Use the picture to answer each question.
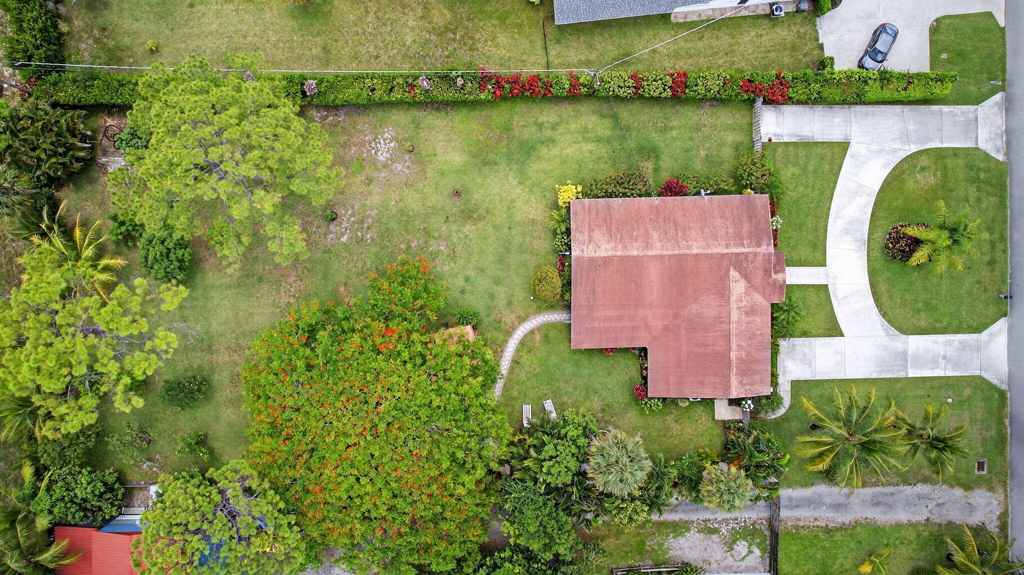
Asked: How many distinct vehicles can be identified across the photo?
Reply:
1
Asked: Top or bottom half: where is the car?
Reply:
top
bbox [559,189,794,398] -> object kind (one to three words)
house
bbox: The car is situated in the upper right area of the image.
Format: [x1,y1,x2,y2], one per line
[856,23,899,79]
